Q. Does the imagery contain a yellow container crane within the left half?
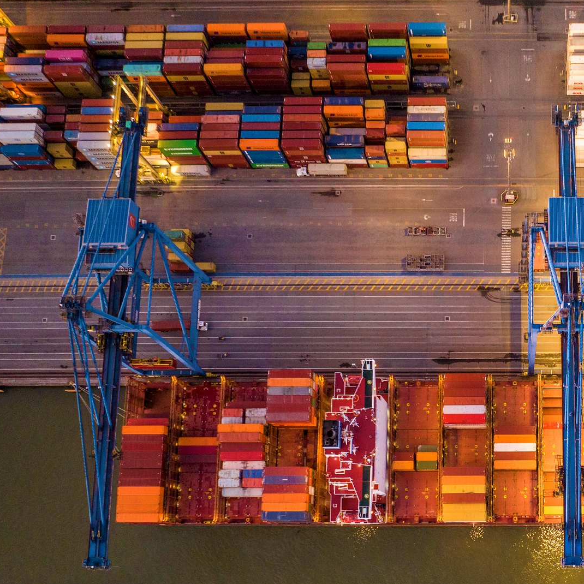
Yes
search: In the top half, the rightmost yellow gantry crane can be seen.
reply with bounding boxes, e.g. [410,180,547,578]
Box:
[106,74,175,183]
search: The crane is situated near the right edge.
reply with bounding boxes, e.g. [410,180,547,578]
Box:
[511,106,584,572]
